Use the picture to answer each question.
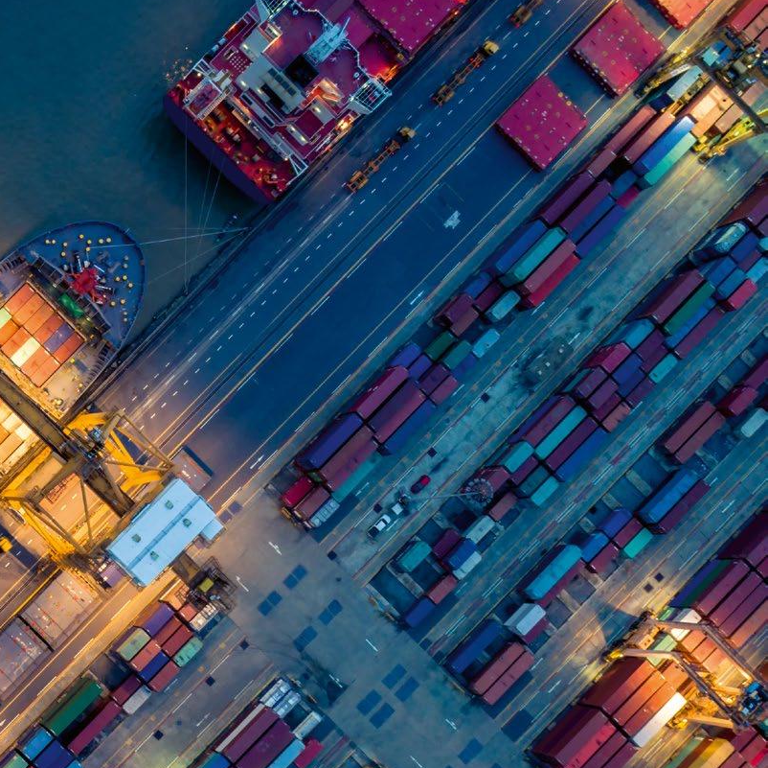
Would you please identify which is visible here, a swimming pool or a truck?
truck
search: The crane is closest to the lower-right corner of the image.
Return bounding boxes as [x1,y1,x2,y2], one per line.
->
[602,605,768,745]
